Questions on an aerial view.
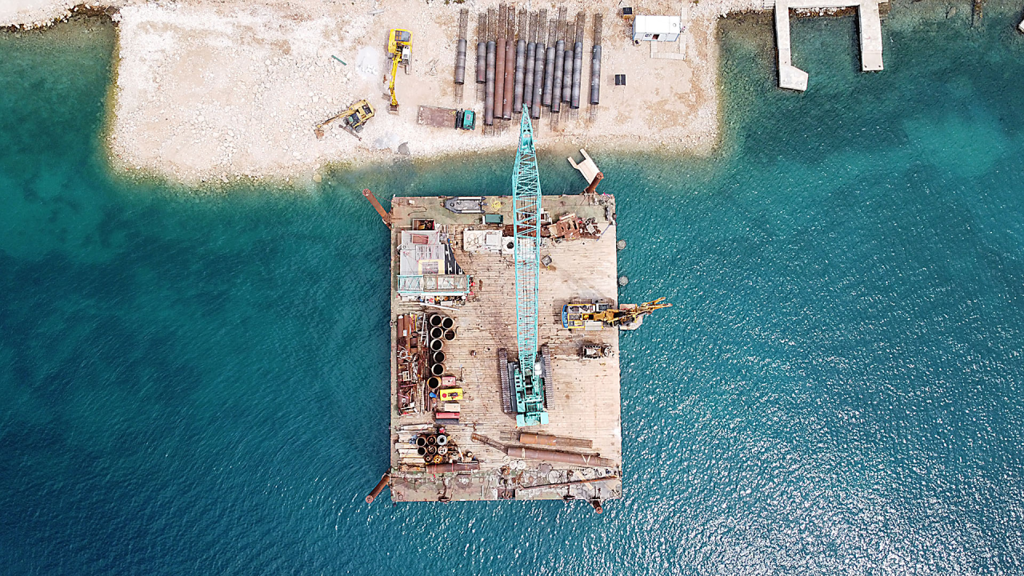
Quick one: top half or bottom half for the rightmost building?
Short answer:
top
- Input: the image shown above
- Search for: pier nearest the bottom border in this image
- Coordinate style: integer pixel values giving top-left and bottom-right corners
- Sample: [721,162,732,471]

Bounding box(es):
[568,149,597,185]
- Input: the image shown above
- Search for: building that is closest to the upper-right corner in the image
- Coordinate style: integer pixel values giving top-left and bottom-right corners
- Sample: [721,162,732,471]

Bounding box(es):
[632,15,681,42]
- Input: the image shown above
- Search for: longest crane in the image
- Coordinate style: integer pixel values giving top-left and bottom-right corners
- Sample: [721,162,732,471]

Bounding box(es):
[499,103,555,428]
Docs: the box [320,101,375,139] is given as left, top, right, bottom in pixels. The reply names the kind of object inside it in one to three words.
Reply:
work vehicle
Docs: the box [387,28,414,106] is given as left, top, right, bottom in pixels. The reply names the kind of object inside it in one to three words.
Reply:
work vehicle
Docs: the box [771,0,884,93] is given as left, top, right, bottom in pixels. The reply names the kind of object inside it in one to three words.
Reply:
pier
